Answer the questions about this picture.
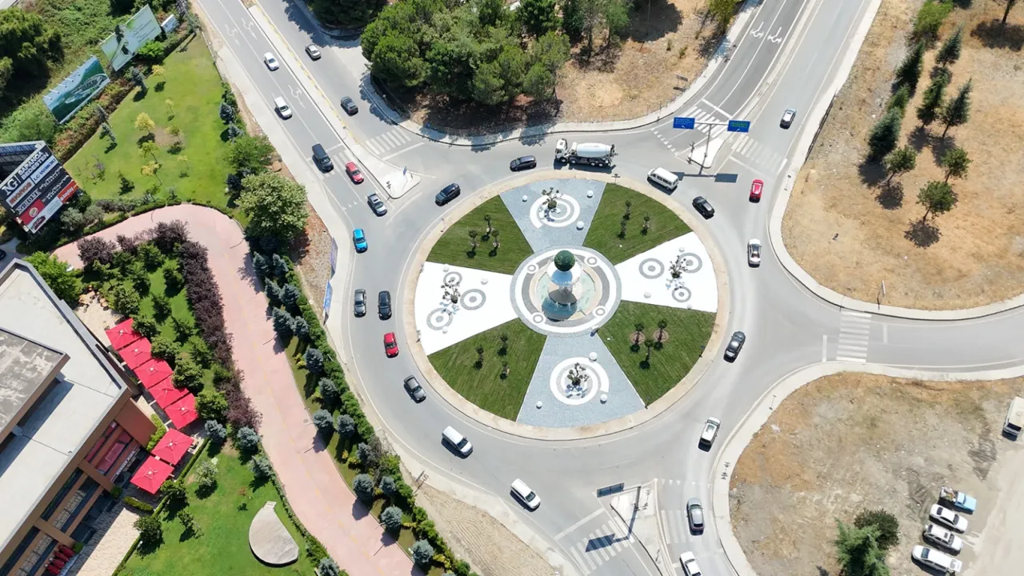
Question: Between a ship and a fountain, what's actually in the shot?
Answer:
fountain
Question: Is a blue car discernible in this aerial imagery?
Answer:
Yes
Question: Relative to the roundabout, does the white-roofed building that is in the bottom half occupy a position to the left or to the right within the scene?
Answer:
to its left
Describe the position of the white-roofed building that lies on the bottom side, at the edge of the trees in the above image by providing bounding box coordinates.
[0,259,155,576]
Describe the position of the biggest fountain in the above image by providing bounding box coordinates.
[530,249,602,318]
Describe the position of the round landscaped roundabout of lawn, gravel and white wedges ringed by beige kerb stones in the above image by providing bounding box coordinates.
[347,134,791,501]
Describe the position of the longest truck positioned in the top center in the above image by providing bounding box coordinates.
[557,139,619,169]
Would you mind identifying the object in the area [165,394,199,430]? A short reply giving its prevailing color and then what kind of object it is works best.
red umbrella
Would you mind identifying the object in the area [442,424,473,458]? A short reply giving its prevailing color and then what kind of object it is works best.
white vehicle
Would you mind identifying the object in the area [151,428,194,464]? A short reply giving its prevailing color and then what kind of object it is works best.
red umbrella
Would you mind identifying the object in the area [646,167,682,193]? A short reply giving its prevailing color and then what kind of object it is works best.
white vehicle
